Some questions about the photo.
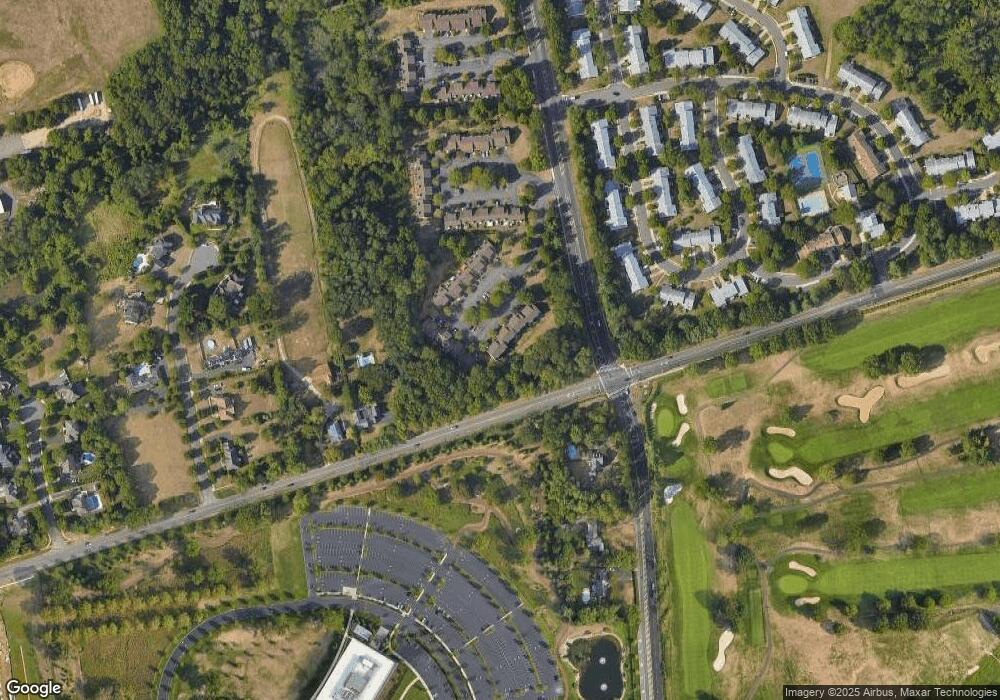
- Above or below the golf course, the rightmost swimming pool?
above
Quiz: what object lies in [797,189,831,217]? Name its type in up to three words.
swimming pool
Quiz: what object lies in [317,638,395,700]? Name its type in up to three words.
building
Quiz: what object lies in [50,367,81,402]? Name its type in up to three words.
house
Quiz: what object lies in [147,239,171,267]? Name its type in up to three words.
house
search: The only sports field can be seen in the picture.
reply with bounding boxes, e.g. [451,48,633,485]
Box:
[0,58,38,103]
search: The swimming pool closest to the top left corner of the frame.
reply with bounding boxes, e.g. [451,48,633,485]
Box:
[132,254,148,273]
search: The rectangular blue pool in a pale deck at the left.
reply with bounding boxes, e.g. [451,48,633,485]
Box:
[82,491,103,513]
